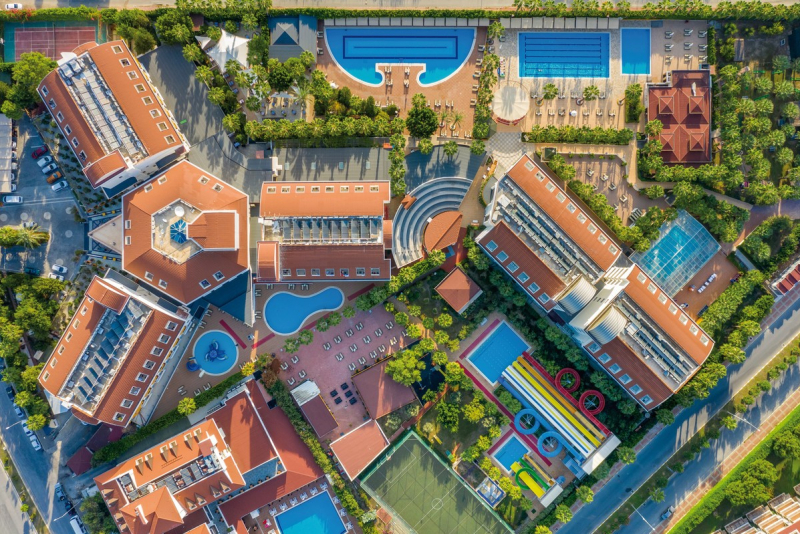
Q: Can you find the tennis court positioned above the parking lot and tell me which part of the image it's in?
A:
top left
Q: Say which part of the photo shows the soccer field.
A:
bottom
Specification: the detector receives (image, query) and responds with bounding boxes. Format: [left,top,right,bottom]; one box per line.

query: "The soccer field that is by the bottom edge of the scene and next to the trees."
[361,429,513,534]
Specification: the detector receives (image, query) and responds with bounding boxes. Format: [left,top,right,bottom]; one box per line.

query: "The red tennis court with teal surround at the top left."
[5,16,107,63]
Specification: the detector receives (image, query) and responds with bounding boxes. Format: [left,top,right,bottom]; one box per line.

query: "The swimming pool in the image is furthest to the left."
[190,328,239,378]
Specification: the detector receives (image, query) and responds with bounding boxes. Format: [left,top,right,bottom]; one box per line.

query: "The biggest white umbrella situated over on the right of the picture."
[492,86,529,122]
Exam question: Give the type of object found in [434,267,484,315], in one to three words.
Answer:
house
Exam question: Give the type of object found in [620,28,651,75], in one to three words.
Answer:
swimming pool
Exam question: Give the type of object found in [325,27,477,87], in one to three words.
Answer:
swimming pool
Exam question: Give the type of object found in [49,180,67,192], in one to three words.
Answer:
vehicle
